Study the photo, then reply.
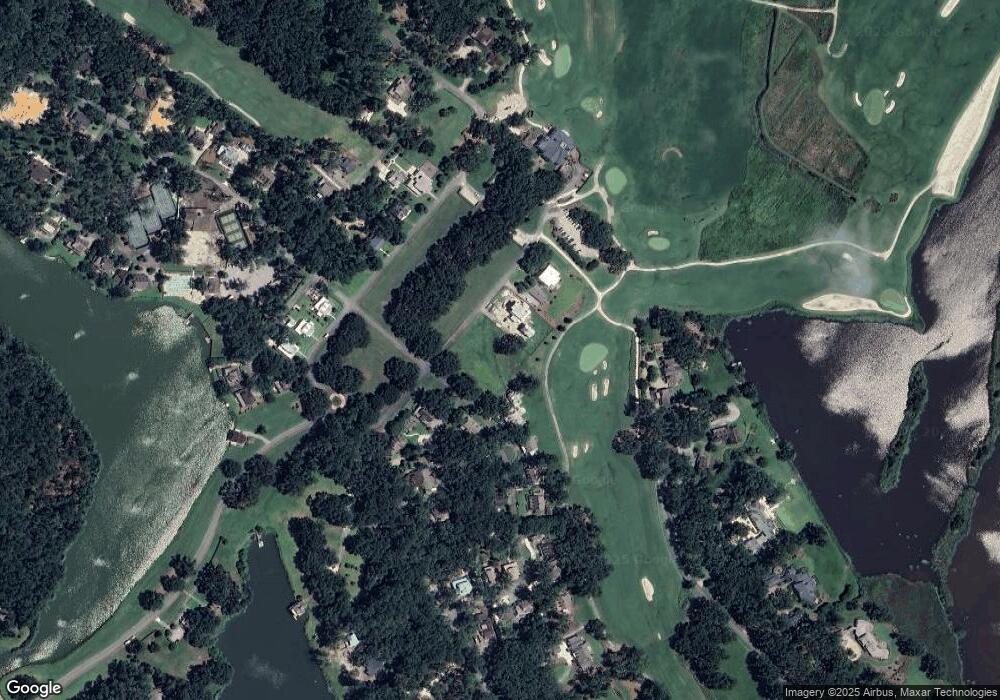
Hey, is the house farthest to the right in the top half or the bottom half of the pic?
bottom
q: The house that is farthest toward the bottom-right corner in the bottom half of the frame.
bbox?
[853,618,893,662]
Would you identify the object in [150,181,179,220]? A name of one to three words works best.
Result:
tennis court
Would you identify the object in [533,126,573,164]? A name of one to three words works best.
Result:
building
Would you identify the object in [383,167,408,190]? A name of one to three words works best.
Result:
house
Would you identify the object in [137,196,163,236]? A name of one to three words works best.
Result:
tennis court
